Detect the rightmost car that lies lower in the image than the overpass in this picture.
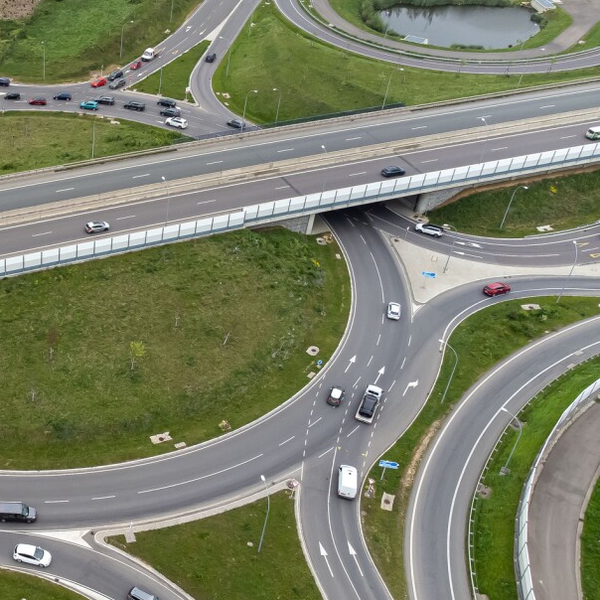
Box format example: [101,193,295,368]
[481,283,511,297]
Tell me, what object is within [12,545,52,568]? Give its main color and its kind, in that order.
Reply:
white car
